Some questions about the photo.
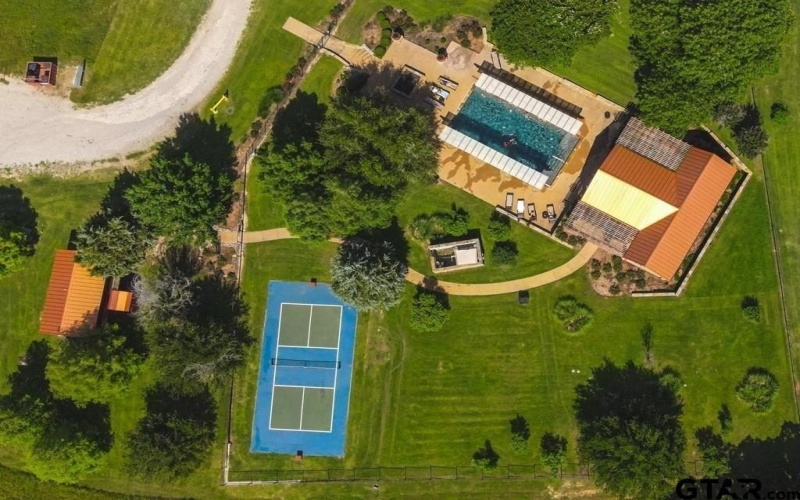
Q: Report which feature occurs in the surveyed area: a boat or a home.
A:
home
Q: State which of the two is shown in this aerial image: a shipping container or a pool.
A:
pool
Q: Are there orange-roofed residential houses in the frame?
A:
Yes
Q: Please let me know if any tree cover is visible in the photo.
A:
Yes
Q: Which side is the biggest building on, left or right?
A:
right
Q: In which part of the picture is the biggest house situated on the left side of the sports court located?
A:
left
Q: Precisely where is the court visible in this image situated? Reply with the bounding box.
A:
[251,280,355,457]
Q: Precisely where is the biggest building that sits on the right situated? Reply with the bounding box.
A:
[562,116,738,280]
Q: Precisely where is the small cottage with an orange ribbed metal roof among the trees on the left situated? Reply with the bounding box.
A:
[38,248,112,335]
